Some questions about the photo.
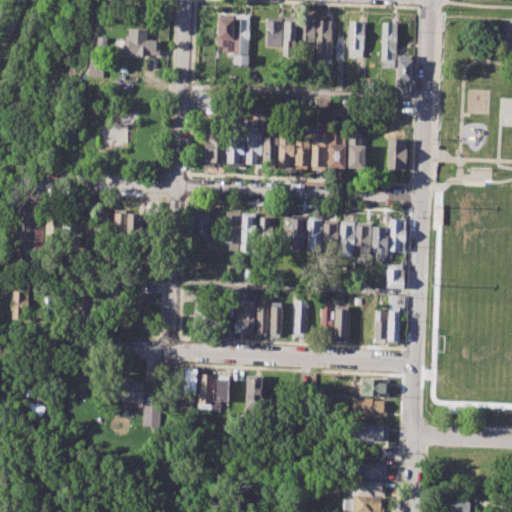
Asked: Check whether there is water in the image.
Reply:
No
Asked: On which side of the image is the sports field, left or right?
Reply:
right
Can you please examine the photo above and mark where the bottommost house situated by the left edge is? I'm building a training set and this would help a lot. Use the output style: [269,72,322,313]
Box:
[12,290,29,320]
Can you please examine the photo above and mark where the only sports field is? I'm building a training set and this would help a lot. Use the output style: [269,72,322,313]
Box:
[436,186,512,403]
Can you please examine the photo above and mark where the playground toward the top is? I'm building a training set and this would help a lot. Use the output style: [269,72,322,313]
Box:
[462,123,488,151]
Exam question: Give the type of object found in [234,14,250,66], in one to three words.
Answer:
house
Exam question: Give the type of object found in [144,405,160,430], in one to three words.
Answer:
building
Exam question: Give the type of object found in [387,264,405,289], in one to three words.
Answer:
house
